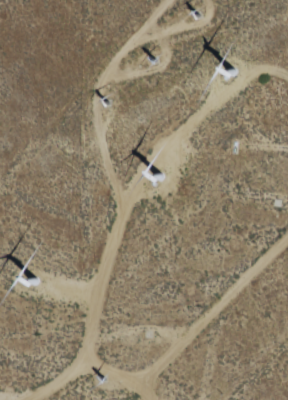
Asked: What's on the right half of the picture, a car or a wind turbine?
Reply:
wind turbine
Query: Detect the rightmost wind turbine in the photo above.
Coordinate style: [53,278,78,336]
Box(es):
[204,38,238,98]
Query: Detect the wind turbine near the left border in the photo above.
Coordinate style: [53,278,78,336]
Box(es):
[2,244,41,306]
